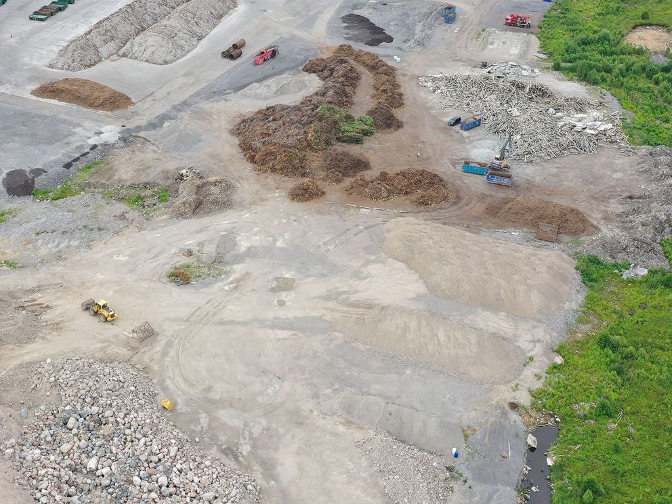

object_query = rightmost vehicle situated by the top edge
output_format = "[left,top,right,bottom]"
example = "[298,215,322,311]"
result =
[504,14,533,26]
